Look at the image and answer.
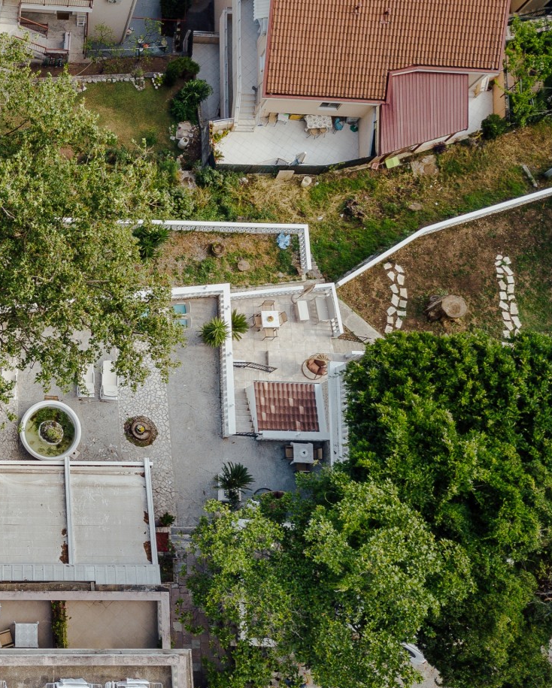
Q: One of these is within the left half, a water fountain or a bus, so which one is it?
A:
water fountain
